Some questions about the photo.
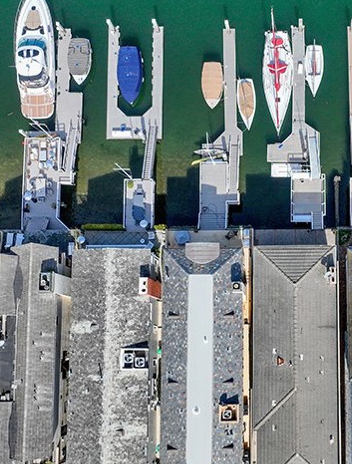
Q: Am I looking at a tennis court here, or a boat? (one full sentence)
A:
Looking from above, you can make out a boat.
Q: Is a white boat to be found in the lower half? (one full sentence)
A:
No, looking in the lower half, there is no white boat.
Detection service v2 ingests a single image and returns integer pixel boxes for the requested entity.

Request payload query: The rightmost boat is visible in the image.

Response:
[302,43,323,97]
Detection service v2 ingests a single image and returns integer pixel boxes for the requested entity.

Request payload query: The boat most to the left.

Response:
[0,0,60,123]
